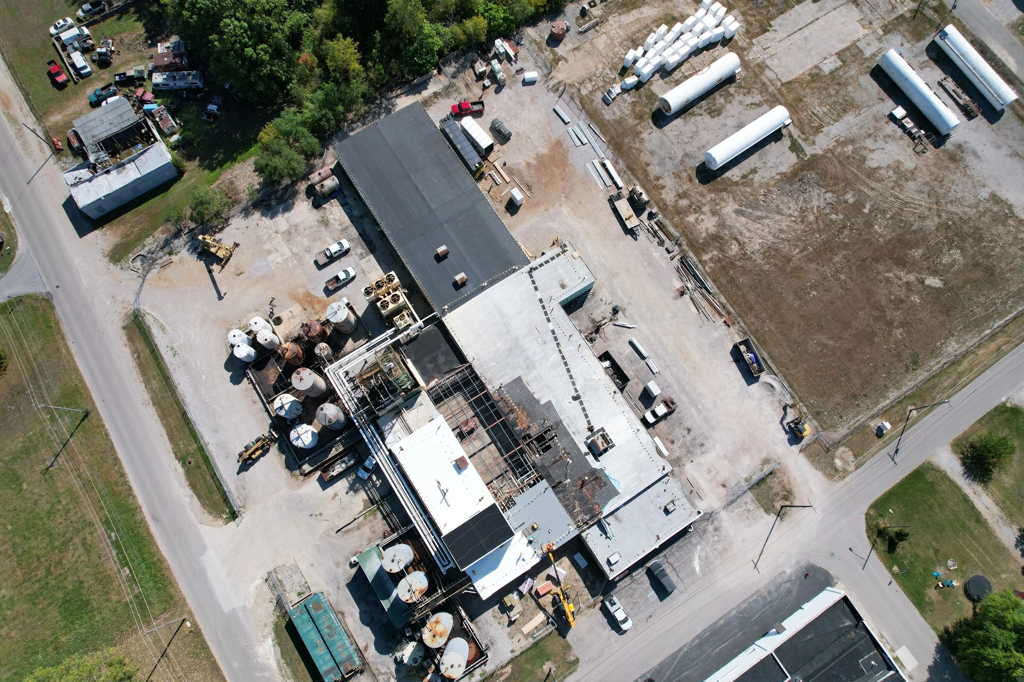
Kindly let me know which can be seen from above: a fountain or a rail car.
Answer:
rail car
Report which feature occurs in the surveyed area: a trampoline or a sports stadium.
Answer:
trampoline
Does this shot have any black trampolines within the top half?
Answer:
No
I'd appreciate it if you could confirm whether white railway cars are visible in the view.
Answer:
No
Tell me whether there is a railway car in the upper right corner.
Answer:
No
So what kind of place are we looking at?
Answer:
industrial area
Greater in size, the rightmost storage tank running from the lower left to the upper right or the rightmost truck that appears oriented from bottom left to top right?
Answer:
the storage tank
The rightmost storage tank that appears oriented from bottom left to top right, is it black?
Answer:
No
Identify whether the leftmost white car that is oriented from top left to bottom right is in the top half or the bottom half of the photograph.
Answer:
top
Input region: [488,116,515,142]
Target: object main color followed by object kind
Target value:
gray car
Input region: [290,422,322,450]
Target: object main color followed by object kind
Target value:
white storage tank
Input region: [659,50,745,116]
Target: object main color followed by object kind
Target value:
white storage tank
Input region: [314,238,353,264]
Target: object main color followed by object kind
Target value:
white truck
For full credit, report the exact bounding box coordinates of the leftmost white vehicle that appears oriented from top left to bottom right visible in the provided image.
[69,51,95,79]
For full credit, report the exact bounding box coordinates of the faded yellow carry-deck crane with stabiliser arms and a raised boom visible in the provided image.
[202,228,249,267]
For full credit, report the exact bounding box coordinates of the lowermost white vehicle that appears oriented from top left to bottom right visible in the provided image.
[605,595,635,632]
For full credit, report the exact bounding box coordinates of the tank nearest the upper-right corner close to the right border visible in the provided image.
[933,23,1020,112]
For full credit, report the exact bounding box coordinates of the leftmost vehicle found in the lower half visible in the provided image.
[241,424,287,463]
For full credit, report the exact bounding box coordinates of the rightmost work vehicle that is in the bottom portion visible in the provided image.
[779,407,815,444]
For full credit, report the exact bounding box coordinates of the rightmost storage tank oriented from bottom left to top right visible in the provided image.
[704,102,794,170]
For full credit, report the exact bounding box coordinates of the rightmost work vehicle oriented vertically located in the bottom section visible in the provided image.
[550,546,580,626]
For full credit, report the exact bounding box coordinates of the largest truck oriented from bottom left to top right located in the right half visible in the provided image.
[645,394,682,425]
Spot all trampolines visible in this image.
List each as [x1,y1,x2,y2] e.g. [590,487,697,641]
[963,574,992,601]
